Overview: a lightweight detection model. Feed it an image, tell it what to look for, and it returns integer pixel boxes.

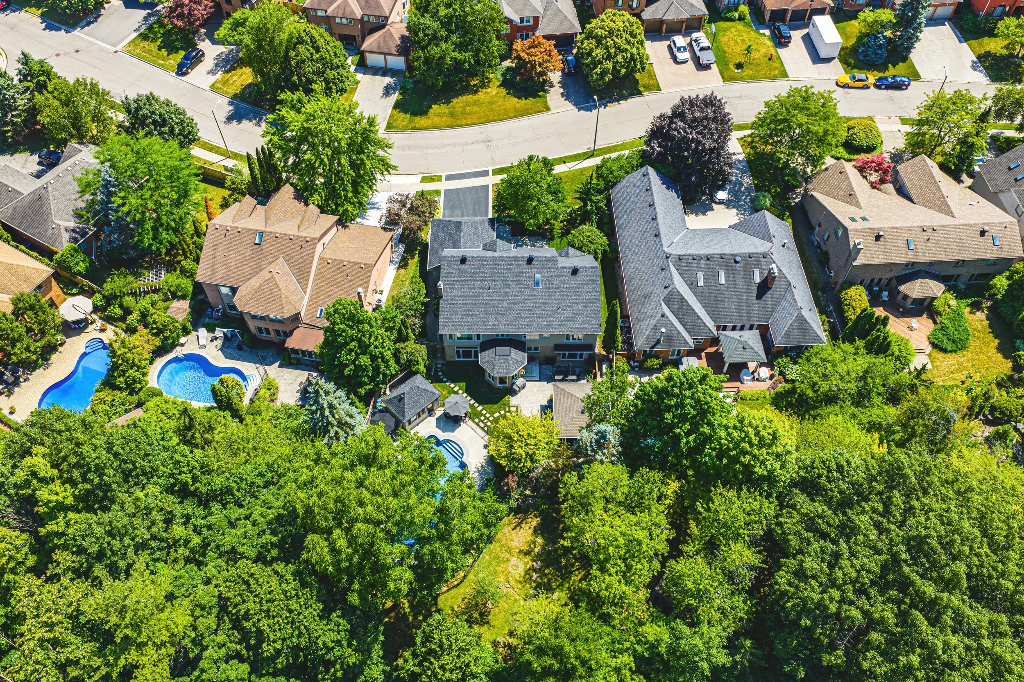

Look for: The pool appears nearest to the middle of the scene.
[401,435,468,481]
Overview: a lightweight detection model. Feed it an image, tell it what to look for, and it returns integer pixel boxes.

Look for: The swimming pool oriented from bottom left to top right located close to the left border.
[39,338,110,419]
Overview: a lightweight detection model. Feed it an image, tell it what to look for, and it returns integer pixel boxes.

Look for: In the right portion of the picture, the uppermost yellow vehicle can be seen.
[836,74,877,90]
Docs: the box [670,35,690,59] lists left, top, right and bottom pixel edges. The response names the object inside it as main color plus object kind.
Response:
white car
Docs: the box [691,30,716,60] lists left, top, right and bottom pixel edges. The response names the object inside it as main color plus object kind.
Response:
white truck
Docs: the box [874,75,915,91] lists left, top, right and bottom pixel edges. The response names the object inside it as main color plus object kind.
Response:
blue car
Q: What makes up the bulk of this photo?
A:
trees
